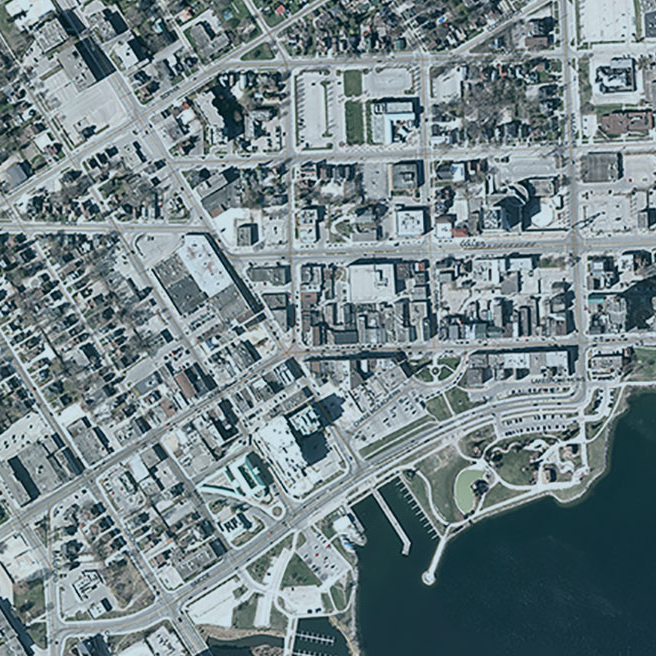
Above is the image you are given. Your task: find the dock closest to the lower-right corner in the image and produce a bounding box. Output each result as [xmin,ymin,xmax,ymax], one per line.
[422,524,450,583]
